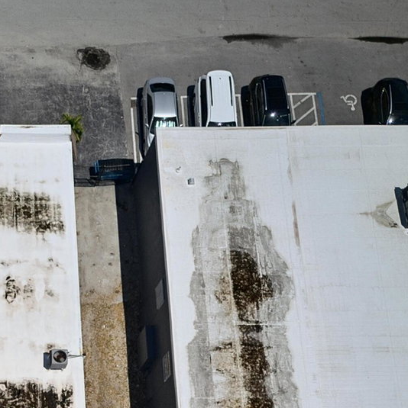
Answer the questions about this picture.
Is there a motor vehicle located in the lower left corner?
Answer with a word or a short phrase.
No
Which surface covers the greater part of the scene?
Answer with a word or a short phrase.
buildings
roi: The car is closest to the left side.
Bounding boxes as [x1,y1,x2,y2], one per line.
[138,80,180,155]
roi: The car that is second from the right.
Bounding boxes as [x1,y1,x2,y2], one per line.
[242,79,291,125]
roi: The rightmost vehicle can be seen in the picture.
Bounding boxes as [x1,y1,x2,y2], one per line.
[363,81,408,125]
